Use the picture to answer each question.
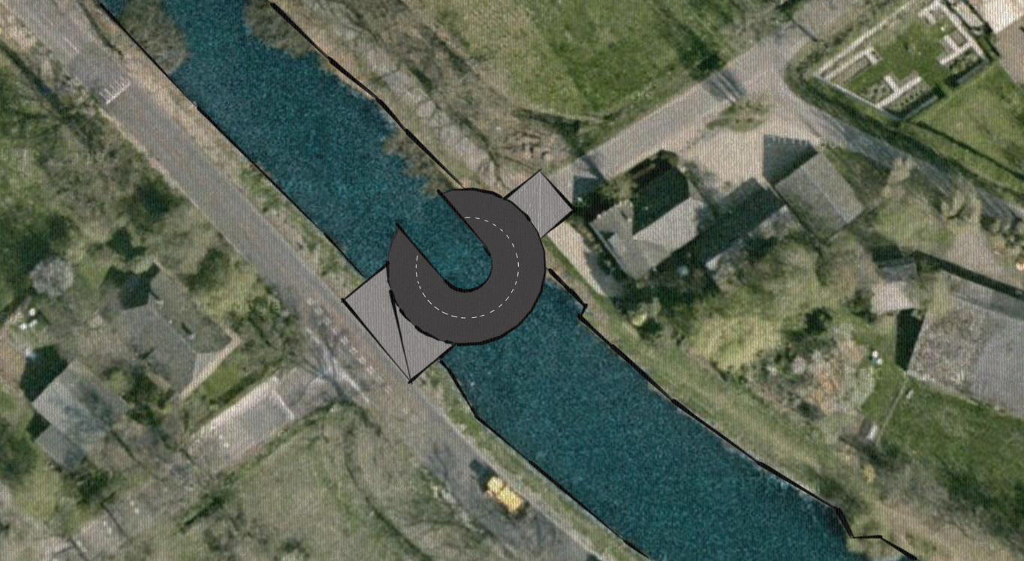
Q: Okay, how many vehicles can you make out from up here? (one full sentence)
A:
The picture shows 1 vehicle.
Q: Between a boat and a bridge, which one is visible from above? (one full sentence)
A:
There is a bridge in the scene.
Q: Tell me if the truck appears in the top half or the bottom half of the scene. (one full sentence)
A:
You can find the truck in the bottom half.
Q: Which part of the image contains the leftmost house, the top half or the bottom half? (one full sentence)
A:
You can find the leftmost house in the bottom half.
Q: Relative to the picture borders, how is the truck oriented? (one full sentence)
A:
From this overhead view, the truck appears to run on a diagonal.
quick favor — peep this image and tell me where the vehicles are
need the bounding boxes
[481,475,525,519]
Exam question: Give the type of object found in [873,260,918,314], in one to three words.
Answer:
shed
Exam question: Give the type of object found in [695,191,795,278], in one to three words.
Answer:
barn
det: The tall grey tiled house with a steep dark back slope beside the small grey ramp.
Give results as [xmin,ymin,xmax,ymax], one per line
[591,175,701,279]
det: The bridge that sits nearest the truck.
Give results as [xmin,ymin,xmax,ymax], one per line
[386,186,546,347]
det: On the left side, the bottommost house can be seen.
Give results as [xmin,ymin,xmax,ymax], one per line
[31,360,125,469]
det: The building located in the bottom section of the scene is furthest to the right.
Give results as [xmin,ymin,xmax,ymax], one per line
[909,299,1024,421]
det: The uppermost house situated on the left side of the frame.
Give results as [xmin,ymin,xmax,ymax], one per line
[115,271,230,394]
